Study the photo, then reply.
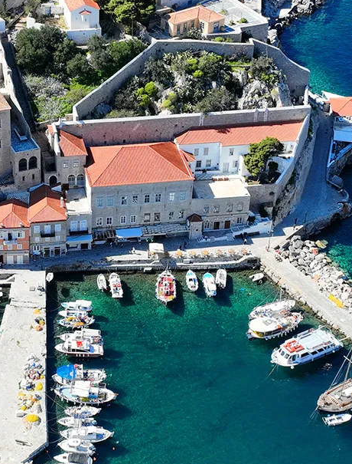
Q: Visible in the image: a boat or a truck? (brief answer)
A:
boat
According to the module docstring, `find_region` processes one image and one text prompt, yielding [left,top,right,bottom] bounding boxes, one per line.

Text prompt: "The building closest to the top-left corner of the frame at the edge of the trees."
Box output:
[59,0,102,43]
